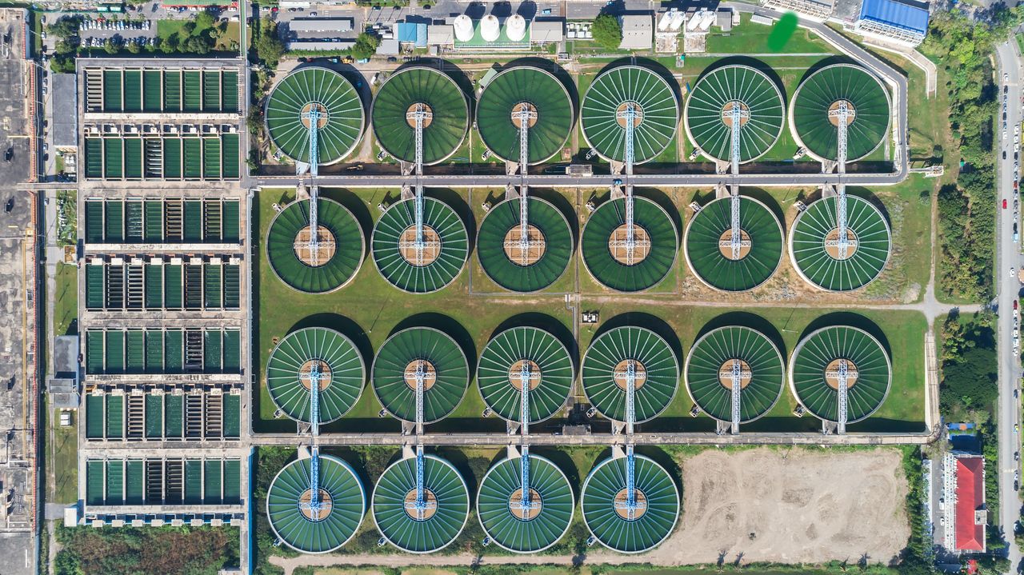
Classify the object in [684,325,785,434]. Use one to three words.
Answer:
storage tank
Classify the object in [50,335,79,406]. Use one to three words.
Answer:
building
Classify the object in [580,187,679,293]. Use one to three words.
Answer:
storage tank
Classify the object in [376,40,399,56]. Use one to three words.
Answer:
shed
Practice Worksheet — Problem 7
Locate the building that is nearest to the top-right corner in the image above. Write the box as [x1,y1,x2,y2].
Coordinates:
[853,0,934,49]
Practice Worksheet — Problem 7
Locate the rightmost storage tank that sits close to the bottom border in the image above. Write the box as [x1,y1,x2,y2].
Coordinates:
[580,445,680,553]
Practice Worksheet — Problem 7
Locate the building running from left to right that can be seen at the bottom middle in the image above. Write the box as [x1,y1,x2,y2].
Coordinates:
[562,423,591,435]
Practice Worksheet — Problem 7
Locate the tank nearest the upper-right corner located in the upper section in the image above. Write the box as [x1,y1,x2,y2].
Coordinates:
[788,64,891,174]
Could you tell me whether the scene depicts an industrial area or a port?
industrial area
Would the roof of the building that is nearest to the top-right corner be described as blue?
Yes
